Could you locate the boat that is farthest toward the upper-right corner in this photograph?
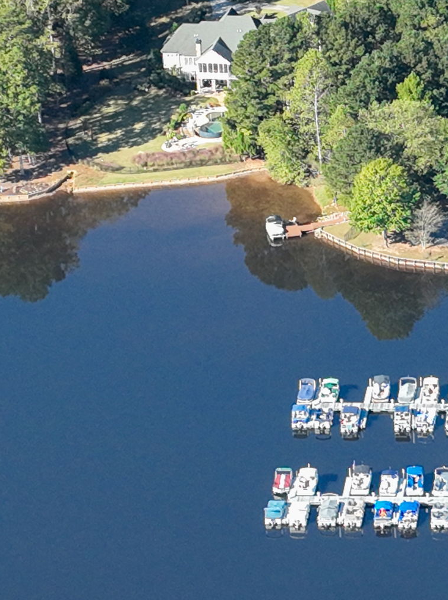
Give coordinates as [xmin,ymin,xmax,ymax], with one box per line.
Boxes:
[267,221,284,245]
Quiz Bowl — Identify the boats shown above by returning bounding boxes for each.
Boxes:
[371,374,392,403]
[295,372,317,406]
[349,463,374,495]
[342,501,366,533]
[291,405,315,434]
[433,459,448,495]
[267,221,284,245]
[313,405,335,435]
[378,463,400,495]
[286,499,310,533]
[295,463,321,495]
[340,408,362,436]
[398,501,421,533]
[371,501,396,536]
[396,370,417,403]
[264,498,289,530]
[404,463,427,495]
[316,499,340,533]
[318,374,341,404]
[419,374,441,403]
[392,408,414,436]
[415,408,437,437]
[428,501,448,533]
